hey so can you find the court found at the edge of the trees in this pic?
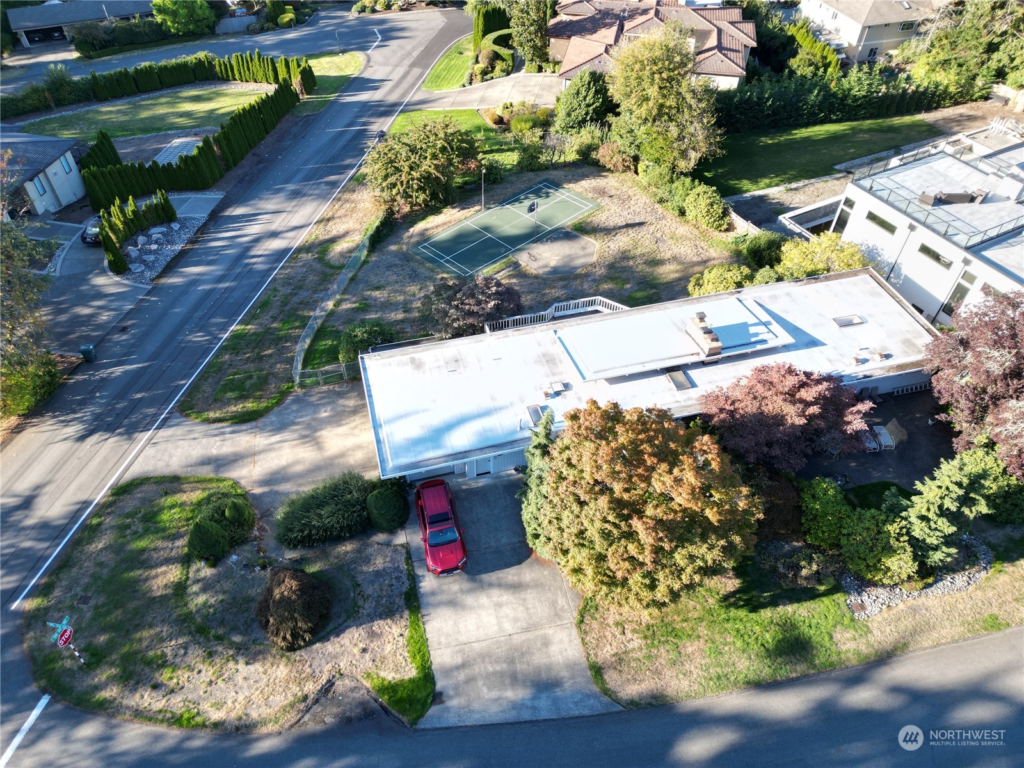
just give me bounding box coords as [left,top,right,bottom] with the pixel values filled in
[399,173,611,279]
